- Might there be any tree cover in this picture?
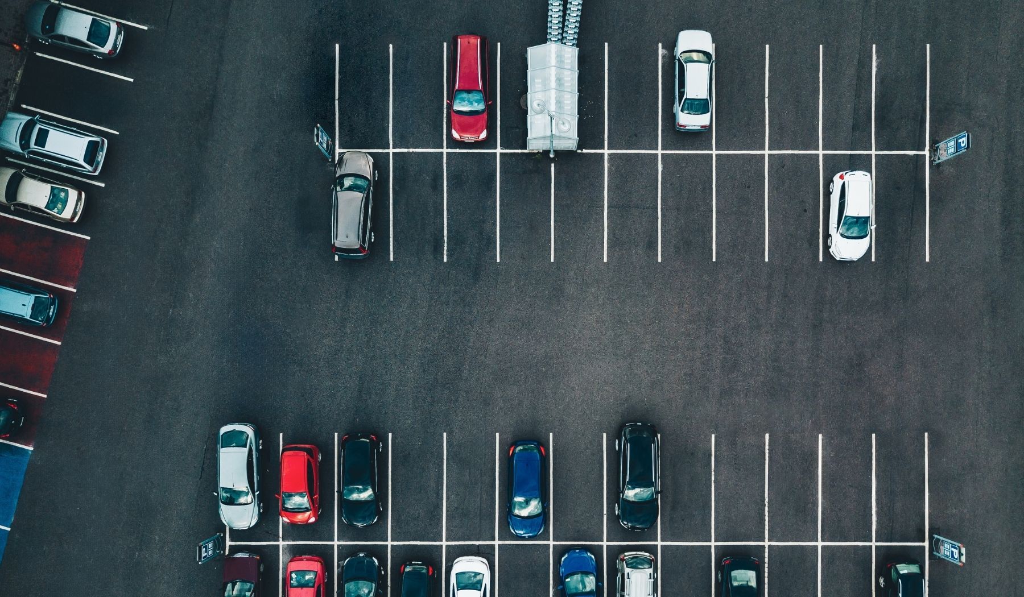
No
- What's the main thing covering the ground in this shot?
paved ground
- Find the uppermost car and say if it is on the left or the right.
left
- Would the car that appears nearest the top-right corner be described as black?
No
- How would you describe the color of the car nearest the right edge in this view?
black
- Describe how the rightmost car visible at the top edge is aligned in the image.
from top to bottom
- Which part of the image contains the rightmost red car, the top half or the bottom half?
top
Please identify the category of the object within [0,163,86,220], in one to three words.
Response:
car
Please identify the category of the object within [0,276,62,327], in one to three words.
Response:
car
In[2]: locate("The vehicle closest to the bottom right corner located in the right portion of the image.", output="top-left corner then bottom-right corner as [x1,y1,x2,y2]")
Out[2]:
[881,558,930,597]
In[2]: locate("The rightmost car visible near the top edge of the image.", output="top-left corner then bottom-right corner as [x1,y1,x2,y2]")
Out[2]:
[673,29,720,133]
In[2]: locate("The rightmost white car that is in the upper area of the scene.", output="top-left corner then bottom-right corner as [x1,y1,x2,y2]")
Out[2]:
[825,170,879,261]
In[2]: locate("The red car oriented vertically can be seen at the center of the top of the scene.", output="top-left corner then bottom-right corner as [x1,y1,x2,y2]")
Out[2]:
[445,33,493,143]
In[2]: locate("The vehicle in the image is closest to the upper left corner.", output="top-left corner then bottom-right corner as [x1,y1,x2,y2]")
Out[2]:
[22,0,126,55]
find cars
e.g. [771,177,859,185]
[0,163,86,220]
[673,29,720,133]
[326,150,376,259]
[450,554,490,597]
[825,170,879,261]
[214,549,264,597]
[397,561,436,597]
[335,551,384,597]
[272,443,321,525]
[210,422,263,529]
[284,553,328,597]
[0,109,109,173]
[881,558,930,597]
[615,422,665,532]
[503,439,551,539]
[0,276,62,327]
[617,550,658,597]
[555,545,604,597]
[720,554,763,597]
[445,33,493,143]
[22,0,126,55]
[334,433,382,529]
